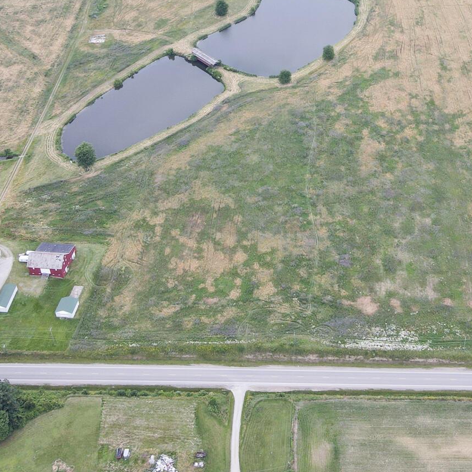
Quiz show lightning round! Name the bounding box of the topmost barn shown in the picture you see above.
[27,244,76,283]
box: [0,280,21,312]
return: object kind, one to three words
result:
shed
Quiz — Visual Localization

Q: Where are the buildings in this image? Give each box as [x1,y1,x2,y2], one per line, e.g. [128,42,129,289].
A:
[0,280,21,312]
[55,295,81,317]
[27,244,76,283]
